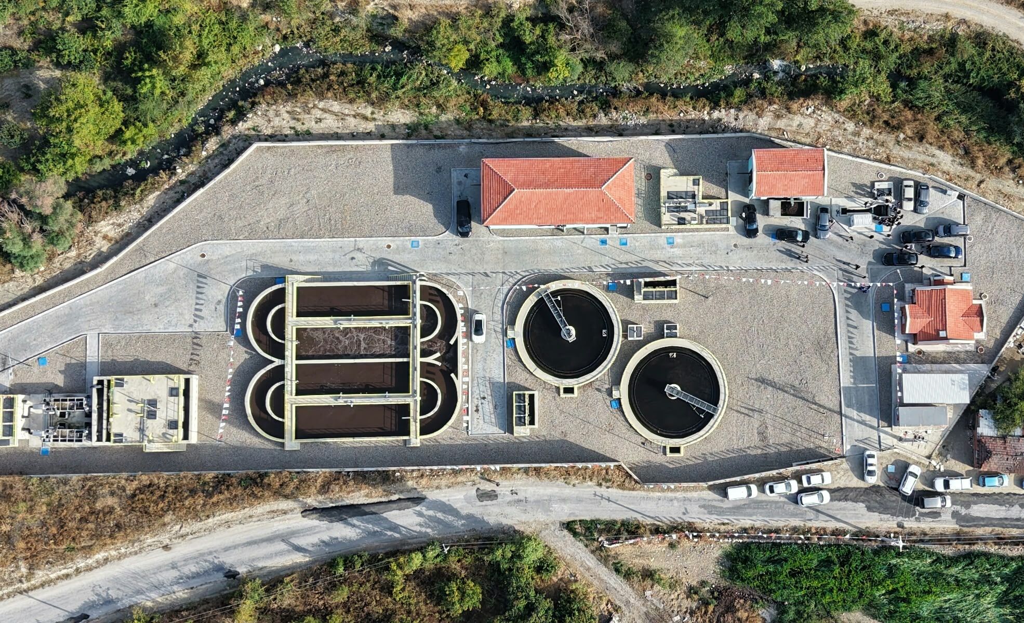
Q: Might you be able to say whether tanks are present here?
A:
Yes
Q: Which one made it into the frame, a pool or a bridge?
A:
bridge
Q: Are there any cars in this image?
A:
Yes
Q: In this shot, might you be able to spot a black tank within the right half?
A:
Yes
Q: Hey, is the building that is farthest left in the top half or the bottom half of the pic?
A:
top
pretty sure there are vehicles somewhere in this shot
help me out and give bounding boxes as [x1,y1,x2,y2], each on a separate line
[797,490,830,507]
[914,182,932,214]
[801,472,831,486]
[882,251,918,266]
[862,451,879,483]
[725,484,758,500]
[934,222,970,238]
[470,312,486,343]
[900,181,916,211]
[456,199,472,237]
[928,244,962,259]
[764,480,798,496]
[932,476,972,492]
[815,206,832,239]
[900,228,935,244]
[978,473,1008,488]
[742,204,760,239]
[918,494,951,510]
[775,228,810,243]
[897,463,922,497]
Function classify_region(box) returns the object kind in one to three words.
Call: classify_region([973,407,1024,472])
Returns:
house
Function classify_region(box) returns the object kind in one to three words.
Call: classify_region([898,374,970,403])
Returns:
shed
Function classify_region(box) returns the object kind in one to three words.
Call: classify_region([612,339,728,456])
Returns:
storage tank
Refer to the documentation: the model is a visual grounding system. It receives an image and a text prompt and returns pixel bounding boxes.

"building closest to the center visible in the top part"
[481,156,635,236]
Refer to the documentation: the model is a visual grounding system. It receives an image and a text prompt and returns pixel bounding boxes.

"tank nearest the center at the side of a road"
[508,280,622,397]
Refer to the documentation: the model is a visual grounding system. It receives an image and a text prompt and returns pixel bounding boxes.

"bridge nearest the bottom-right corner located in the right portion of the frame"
[665,386,726,417]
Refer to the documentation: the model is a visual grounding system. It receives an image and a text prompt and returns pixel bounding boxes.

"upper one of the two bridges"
[536,286,575,340]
